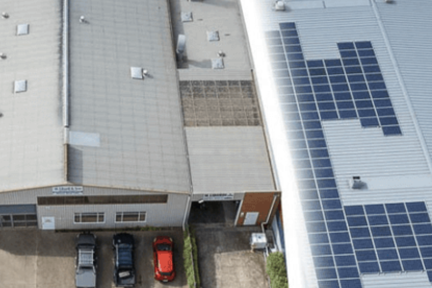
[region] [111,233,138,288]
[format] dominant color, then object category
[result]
black vehicle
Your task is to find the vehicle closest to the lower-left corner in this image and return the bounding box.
[72,234,100,288]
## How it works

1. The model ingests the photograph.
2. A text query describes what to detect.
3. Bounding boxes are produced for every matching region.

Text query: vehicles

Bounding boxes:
[152,236,177,283]
[72,234,100,288]
[111,233,138,288]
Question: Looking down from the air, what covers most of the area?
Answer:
buildings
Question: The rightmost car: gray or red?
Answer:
red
